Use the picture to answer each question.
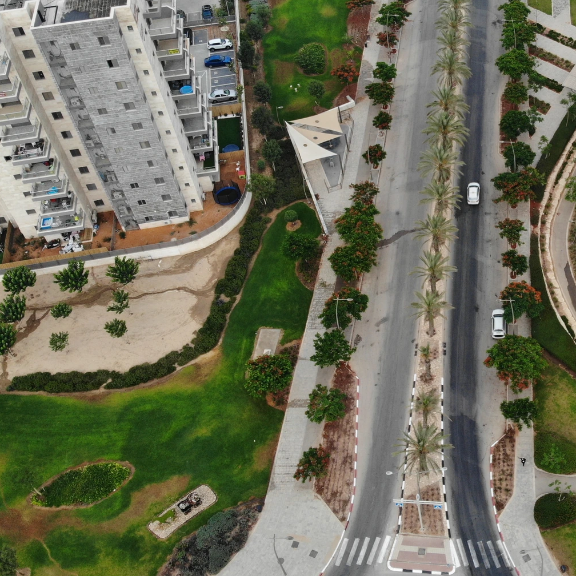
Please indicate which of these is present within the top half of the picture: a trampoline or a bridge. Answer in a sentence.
It is a trampoline that can be seen within the top half of the picture.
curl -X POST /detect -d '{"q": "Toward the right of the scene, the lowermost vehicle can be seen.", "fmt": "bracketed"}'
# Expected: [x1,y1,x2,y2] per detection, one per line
[490,310,507,339]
